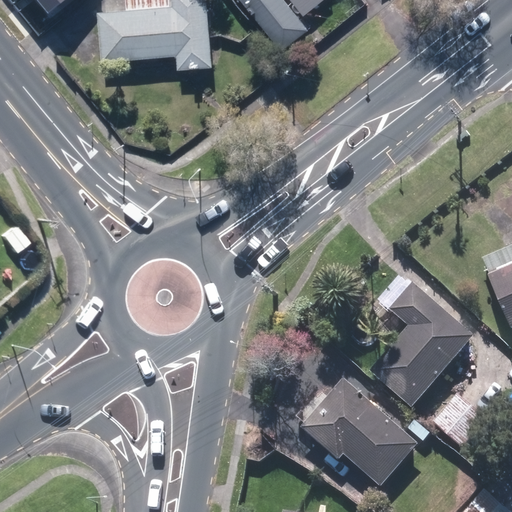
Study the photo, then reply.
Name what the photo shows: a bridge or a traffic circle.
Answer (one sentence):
The one in the frame is a traffic circle.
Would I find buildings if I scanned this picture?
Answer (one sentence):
Yes, the frame does contain a building.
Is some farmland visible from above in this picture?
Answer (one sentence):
No, farmland can't be seen anywhere here.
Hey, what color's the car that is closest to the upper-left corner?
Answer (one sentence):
The color of the car that is closest to the upper-left corner is white.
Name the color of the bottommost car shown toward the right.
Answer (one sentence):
The bottommost car shown toward the right is blue.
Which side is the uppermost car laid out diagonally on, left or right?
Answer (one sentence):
It is on the right.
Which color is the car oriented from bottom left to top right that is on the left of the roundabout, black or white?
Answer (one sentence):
The color of the car oriented from bottom left to top right that is on the left of the roundabout is white.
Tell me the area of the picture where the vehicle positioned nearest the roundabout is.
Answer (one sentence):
The vehicle positioned nearest the roundabout is located in the center region of the scene.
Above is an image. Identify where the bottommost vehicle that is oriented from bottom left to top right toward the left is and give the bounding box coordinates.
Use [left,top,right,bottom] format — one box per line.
[78,296,104,327]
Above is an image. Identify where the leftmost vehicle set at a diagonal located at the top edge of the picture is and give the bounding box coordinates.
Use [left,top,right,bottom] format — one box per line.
[464,11,492,36]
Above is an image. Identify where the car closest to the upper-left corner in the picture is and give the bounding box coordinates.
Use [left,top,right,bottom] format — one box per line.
[120,202,154,229]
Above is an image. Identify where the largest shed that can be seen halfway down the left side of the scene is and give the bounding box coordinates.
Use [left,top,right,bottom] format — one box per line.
[6,227,30,253]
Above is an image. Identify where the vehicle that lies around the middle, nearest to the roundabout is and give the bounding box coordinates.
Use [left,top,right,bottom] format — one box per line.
[204,282,224,315]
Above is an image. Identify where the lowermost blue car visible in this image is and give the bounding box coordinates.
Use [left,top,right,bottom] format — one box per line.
[324,454,350,478]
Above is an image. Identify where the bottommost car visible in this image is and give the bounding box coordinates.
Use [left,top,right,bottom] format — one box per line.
[148,478,162,509]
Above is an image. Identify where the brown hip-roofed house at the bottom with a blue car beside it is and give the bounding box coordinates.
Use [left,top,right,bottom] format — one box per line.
[296,377,418,486]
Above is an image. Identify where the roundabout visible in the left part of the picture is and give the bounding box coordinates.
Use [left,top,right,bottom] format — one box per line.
[126,258,204,336]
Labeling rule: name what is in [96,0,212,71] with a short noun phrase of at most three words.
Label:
house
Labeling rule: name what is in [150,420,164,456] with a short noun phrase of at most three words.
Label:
vehicle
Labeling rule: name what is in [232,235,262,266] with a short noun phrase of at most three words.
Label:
truck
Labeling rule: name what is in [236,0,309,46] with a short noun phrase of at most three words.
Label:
house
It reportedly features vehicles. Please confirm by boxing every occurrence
[150,420,164,456]
[40,404,69,418]
[324,454,350,478]
[148,478,162,509]
[464,11,492,36]
[78,296,104,327]
[204,282,224,315]
[136,348,154,380]
[256,237,288,268]
[120,202,154,229]
[196,199,230,226]
[323,158,354,184]
[232,235,262,266]
[476,382,504,406]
